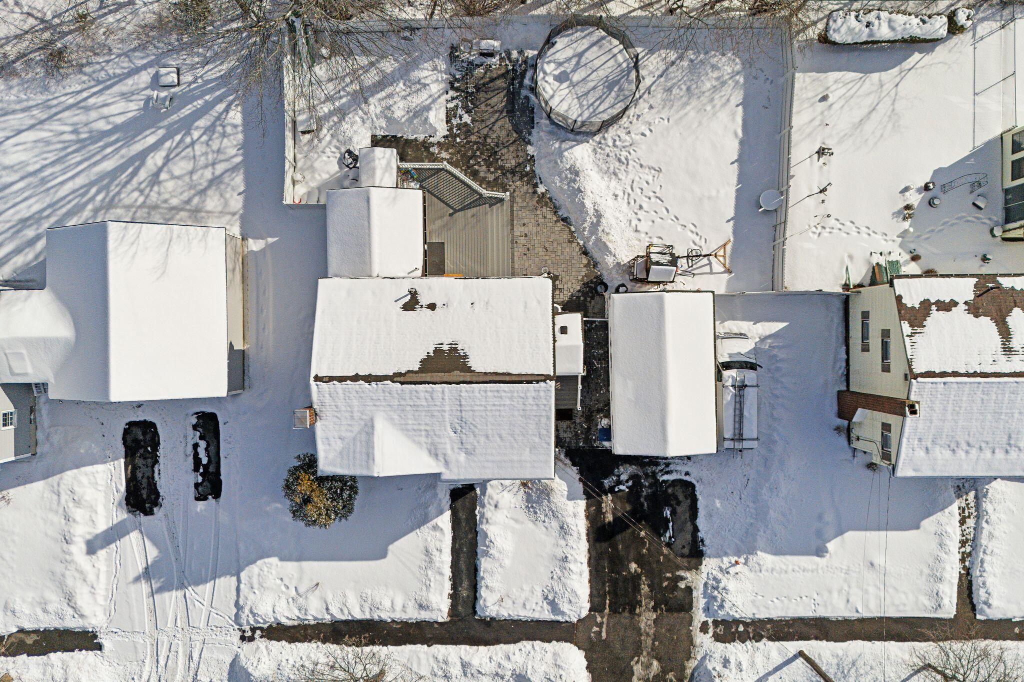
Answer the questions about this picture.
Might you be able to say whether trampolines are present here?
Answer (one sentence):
Yes, there is a trampoline in the image.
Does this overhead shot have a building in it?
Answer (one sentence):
Yes, there is a building in the image.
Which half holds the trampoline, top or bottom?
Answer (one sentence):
The trampoline is in the top half of the image.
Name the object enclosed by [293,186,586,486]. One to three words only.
house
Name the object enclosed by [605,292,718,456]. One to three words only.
building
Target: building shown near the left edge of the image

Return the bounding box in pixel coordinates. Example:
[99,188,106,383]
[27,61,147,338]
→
[0,220,248,462]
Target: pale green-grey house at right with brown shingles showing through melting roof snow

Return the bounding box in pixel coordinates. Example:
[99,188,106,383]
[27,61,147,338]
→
[837,274,1024,478]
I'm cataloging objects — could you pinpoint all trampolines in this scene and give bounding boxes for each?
[535,21,638,136]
